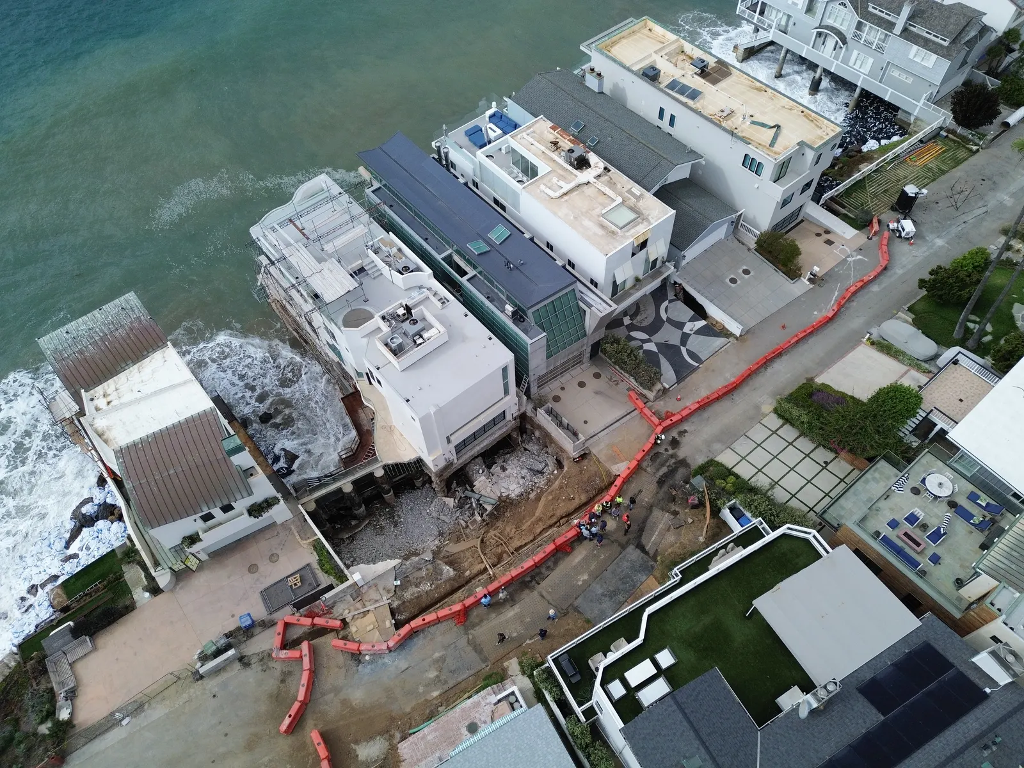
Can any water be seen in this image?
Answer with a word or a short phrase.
Yes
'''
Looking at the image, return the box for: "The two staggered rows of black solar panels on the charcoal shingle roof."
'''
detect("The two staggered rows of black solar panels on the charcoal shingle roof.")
[813,641,989,768]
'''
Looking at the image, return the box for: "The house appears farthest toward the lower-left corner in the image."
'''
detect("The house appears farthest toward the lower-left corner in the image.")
[39,295,301,588]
